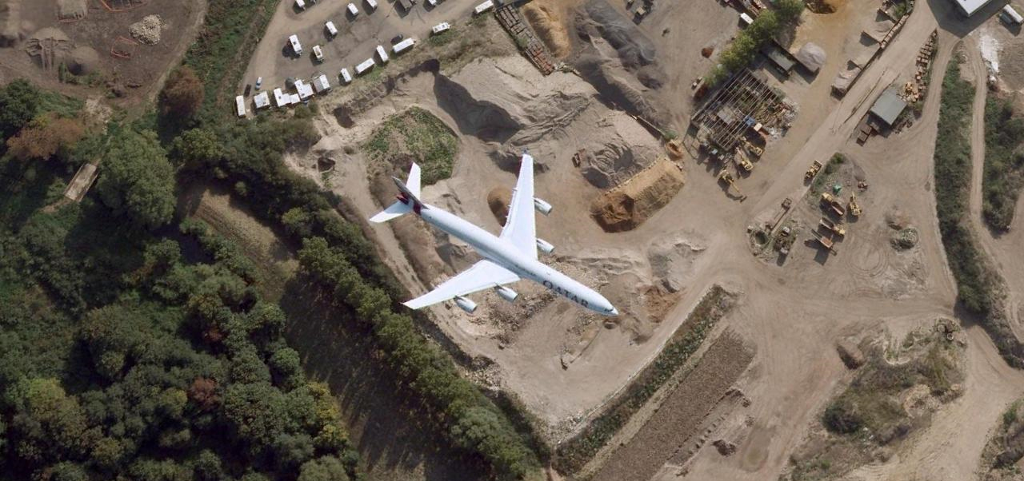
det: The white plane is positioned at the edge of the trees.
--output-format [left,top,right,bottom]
[372,143,614,314]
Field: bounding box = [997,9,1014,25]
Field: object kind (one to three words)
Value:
vehicle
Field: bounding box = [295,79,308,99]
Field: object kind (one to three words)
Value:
vehicle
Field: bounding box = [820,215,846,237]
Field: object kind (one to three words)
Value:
truck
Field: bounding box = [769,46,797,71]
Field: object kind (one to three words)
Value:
shed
